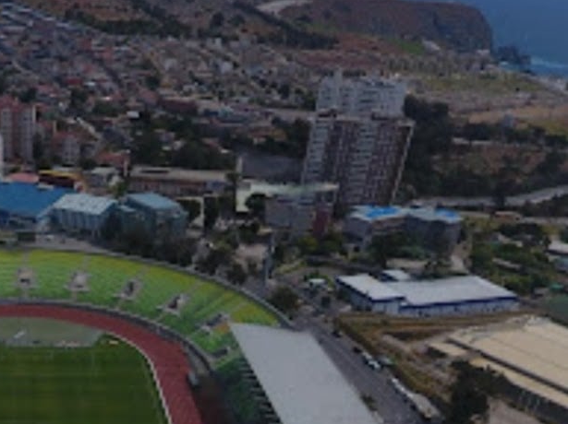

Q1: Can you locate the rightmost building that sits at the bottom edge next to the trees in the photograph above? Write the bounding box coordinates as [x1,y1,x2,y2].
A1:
[444,315,568,424]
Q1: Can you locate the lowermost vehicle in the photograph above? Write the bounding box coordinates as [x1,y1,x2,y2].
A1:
[410,396,438,421]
